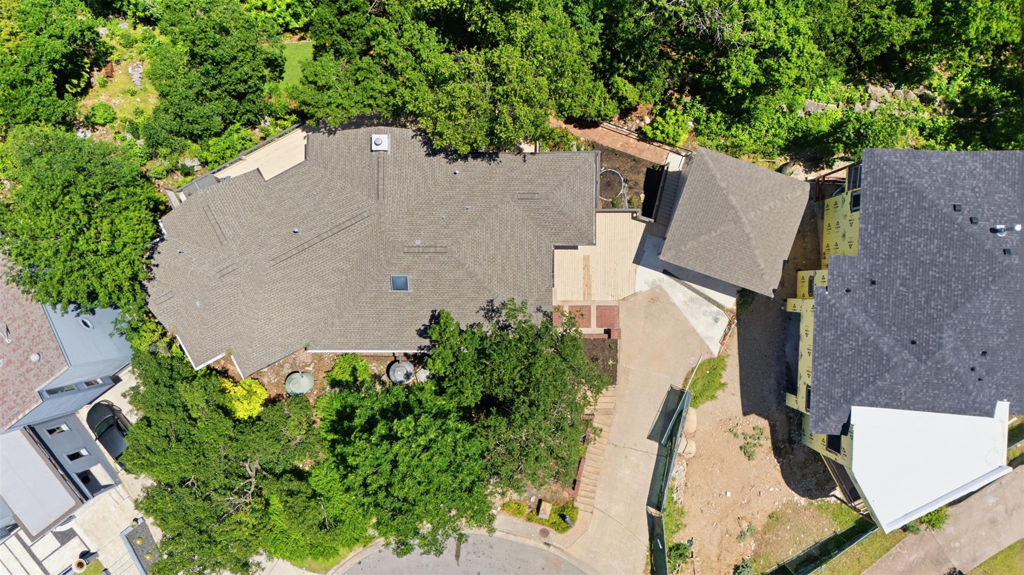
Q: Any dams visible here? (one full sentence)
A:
No, no dam can be seen from above.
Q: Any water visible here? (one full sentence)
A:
No, no water is visible.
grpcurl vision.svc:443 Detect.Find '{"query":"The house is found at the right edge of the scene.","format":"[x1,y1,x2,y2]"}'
[787,147,1024,536]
